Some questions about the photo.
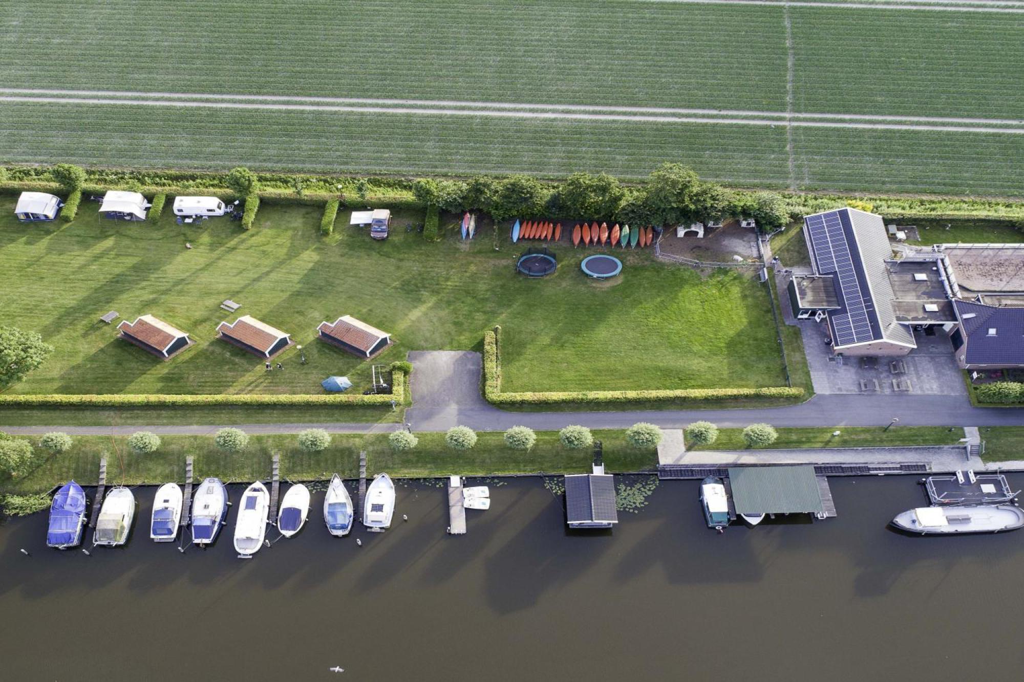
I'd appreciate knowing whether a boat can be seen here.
Yes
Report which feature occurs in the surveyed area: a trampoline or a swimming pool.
trampoline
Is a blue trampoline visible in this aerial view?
Yes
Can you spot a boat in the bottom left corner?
Yes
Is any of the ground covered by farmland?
Yes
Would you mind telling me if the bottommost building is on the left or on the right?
right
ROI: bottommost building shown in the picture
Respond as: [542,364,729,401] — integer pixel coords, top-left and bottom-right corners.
[726,466,824,515]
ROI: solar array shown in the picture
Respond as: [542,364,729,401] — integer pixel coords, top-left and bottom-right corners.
[809,212,867,343]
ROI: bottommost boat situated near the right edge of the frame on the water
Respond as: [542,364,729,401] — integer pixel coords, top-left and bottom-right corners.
[891,505,1024,533]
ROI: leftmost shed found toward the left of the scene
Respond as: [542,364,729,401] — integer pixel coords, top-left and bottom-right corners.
[116,318,195,360]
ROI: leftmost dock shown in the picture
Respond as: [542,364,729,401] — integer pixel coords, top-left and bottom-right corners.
[89,458,109,527]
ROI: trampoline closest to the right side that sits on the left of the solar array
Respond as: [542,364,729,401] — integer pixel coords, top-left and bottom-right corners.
[581,255,622,280]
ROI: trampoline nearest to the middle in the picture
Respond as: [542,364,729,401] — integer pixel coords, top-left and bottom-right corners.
[518,248,556,278]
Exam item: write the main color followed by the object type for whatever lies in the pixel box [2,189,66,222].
white camper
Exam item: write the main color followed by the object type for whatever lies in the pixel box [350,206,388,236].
white van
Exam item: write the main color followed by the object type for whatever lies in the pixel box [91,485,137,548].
white boat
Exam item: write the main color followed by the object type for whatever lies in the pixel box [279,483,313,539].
white boat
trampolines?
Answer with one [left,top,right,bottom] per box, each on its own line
[518,248,556,278]
[581,255,622,280]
